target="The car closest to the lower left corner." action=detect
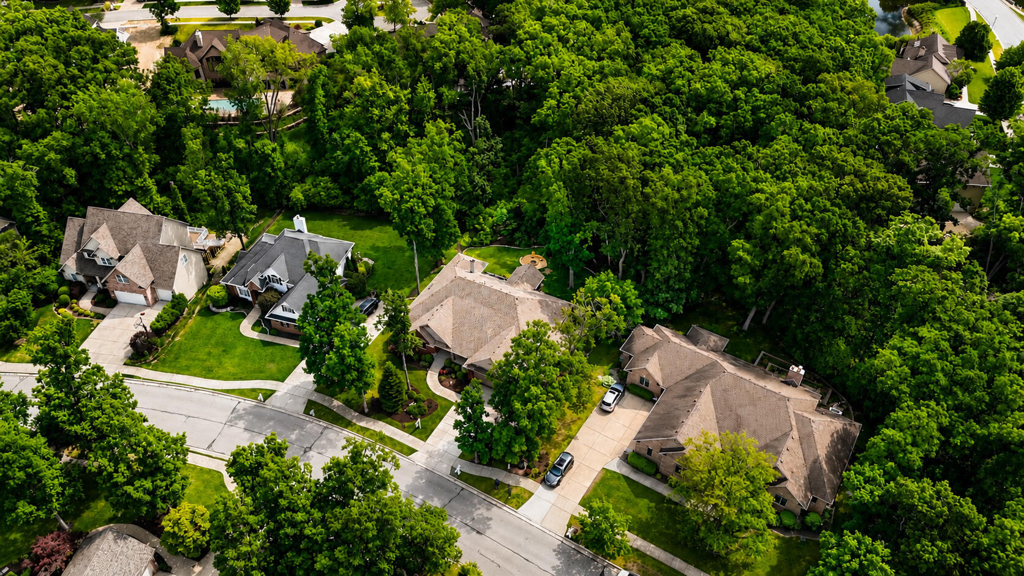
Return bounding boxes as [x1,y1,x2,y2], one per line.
[353,293,383,320]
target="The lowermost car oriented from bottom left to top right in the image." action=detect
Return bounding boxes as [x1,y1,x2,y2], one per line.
[544,451,578,491]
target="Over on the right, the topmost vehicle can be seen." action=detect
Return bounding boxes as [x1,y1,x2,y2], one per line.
[599,381,630,414]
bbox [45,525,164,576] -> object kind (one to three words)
house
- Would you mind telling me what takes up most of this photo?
trees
